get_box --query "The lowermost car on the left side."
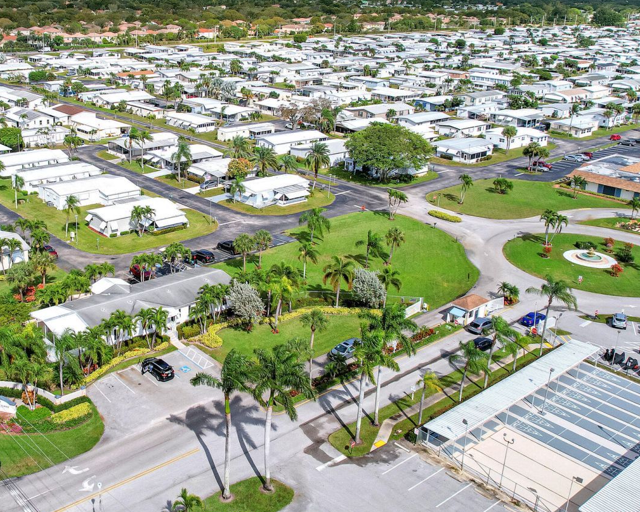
[143,357,178,381]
